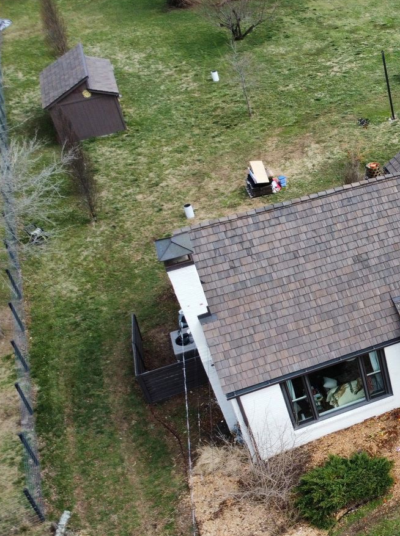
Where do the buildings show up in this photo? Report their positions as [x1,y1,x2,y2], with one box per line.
[154,151,400,457]
[38,44,126,143]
